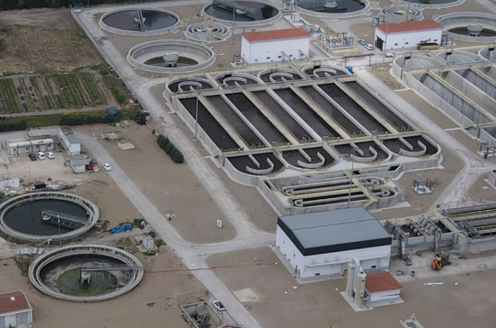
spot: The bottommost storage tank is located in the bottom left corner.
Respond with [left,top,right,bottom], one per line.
[22,245,150,309]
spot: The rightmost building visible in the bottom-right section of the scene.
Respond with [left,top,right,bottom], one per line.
[367,273,407,306]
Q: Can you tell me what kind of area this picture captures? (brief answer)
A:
industrial area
